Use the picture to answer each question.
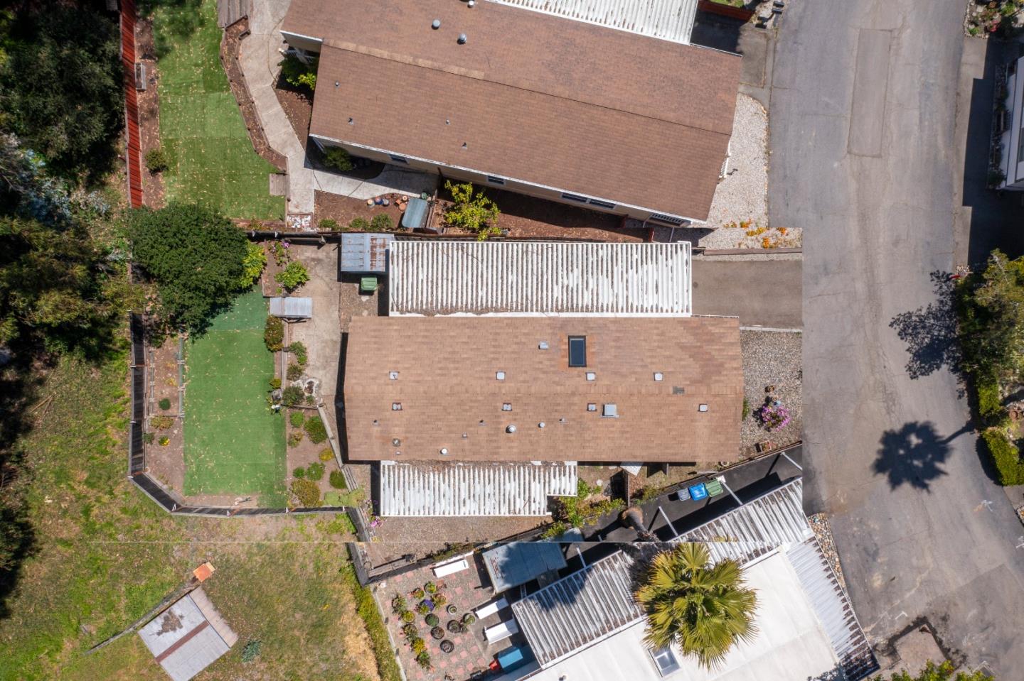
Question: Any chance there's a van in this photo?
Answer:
No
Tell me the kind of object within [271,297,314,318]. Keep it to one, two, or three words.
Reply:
building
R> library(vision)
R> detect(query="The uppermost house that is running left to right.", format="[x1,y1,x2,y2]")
[270,0,742,230]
